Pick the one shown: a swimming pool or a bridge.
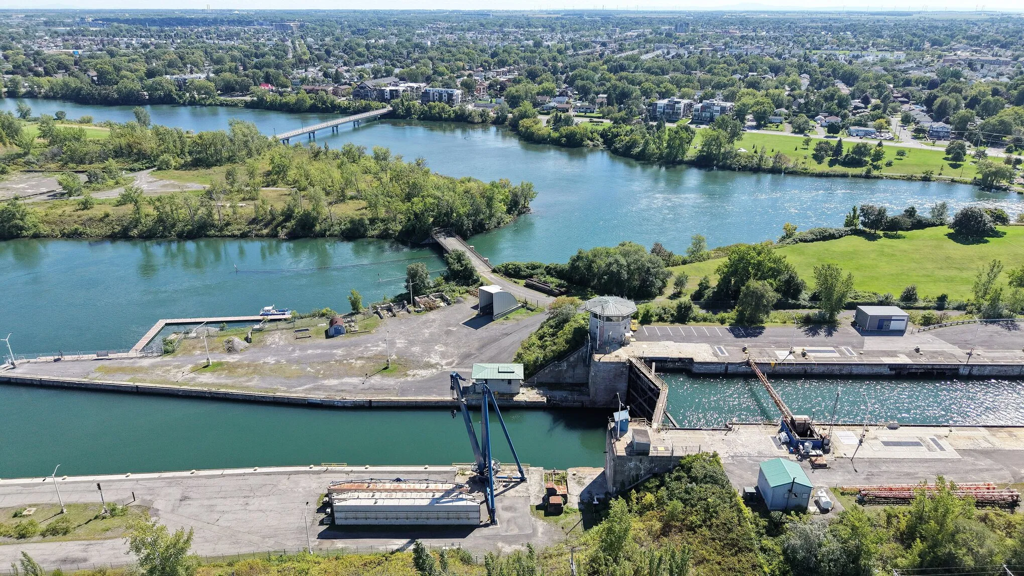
bridge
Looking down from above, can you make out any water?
Yes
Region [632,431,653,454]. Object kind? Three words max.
shed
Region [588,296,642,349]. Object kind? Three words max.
building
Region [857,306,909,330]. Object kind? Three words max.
building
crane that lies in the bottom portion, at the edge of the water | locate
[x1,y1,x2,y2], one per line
[448,371,528,529]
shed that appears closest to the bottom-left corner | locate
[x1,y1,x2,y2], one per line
[326,311,345,336]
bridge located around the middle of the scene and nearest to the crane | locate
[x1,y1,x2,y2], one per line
[423,228,493,277]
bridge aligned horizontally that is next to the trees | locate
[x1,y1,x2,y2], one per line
[266,105,401,142]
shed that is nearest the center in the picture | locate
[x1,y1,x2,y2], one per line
[478,282,524,320]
